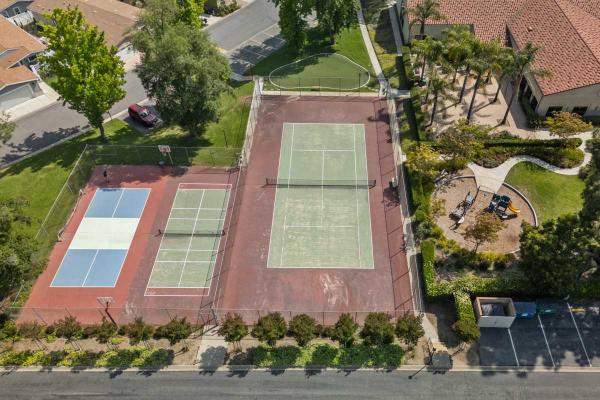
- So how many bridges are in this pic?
0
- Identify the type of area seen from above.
sports ground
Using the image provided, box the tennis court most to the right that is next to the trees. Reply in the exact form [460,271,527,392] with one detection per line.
[219,94,417,327]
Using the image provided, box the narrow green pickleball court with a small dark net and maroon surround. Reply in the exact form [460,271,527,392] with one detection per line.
[122,166,245,322]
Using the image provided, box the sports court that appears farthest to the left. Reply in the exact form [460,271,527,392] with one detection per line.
[19,165,179,322]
